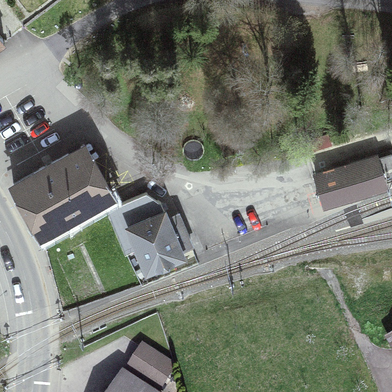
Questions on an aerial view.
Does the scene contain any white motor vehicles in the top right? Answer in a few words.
No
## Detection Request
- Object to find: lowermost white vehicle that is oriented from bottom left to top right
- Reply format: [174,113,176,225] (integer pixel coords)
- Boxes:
[0,120,22,138]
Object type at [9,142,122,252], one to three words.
house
